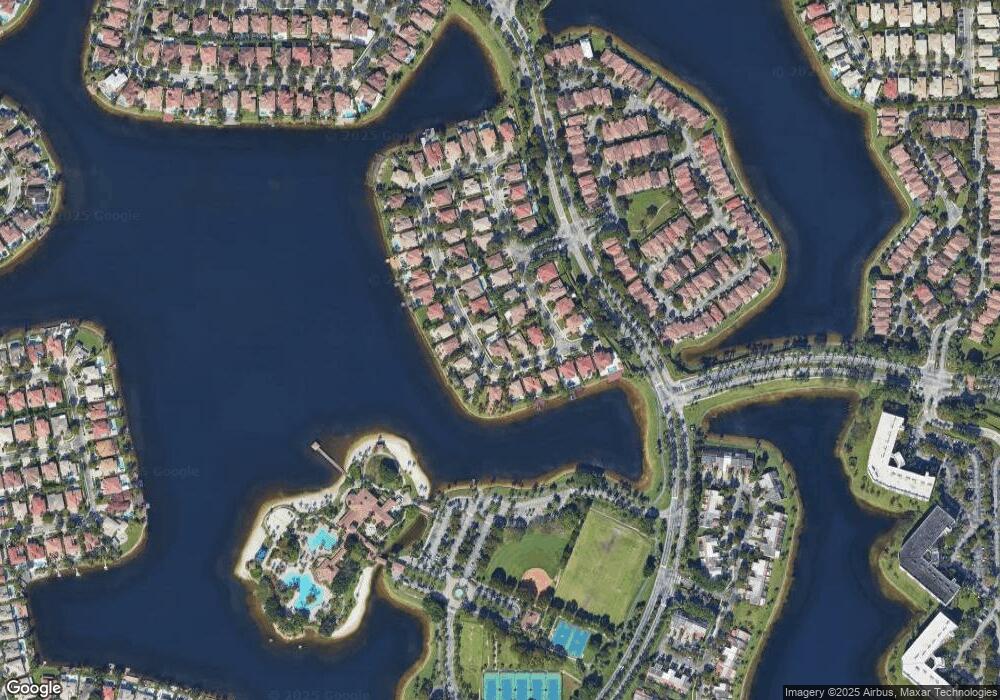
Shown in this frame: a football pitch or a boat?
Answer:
football pitch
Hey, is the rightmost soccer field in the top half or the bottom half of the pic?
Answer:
bottom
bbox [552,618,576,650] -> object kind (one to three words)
sports court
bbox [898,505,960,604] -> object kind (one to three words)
building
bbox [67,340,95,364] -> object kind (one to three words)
house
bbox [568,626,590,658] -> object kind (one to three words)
sports court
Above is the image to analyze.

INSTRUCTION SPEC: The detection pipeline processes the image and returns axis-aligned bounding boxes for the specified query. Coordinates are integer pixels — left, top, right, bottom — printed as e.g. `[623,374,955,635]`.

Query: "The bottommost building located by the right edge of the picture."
[901,612,968,700]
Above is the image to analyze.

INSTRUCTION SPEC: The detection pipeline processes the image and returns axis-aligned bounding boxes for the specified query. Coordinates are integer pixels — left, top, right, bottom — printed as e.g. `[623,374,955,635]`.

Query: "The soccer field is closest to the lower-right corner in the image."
[562,509,651,623]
